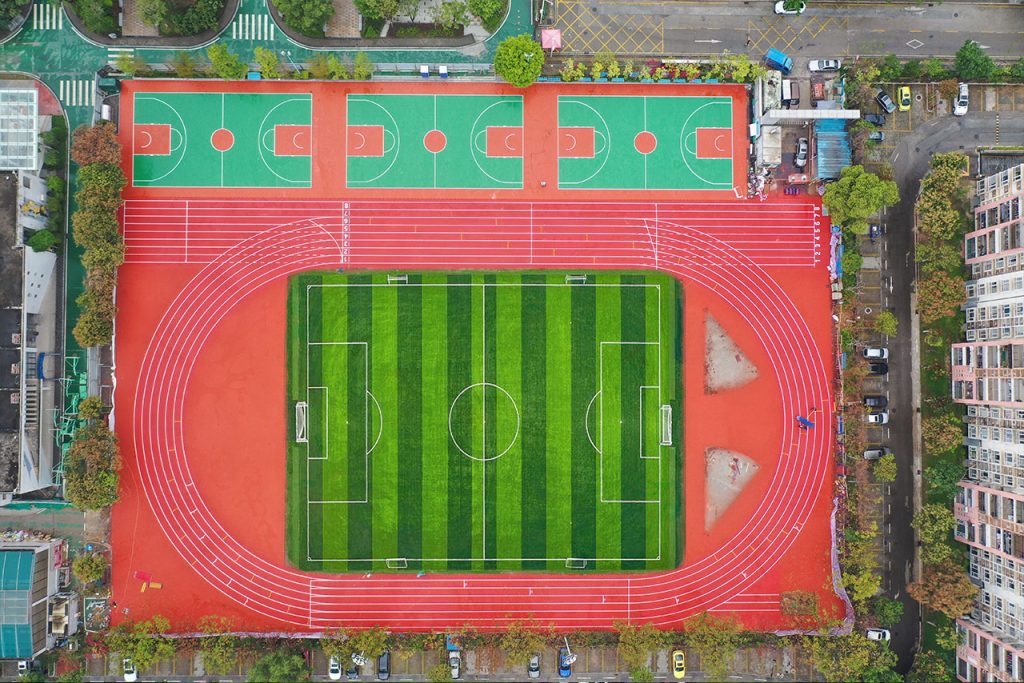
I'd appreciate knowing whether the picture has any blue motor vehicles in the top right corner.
Yes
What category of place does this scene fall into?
sports ground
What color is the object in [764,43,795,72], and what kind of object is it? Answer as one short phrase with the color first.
blue truck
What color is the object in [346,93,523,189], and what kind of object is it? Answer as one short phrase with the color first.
green basketball court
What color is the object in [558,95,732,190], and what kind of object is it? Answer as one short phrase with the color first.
green basketball court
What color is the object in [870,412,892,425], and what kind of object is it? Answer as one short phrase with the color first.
white vehicle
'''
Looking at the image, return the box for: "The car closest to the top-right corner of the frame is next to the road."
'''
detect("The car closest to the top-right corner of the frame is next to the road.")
[955,80,974,113]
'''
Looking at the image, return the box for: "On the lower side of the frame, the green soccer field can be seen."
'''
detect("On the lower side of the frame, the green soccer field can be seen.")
[287,270,684,574]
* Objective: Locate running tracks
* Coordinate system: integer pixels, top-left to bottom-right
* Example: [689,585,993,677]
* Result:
[110,197,846,636]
